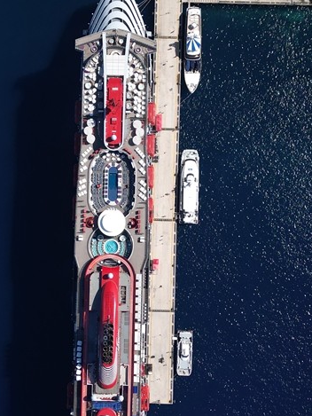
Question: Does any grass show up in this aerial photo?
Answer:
No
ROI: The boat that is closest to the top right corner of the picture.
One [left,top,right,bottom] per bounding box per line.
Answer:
[183,4,202,93]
